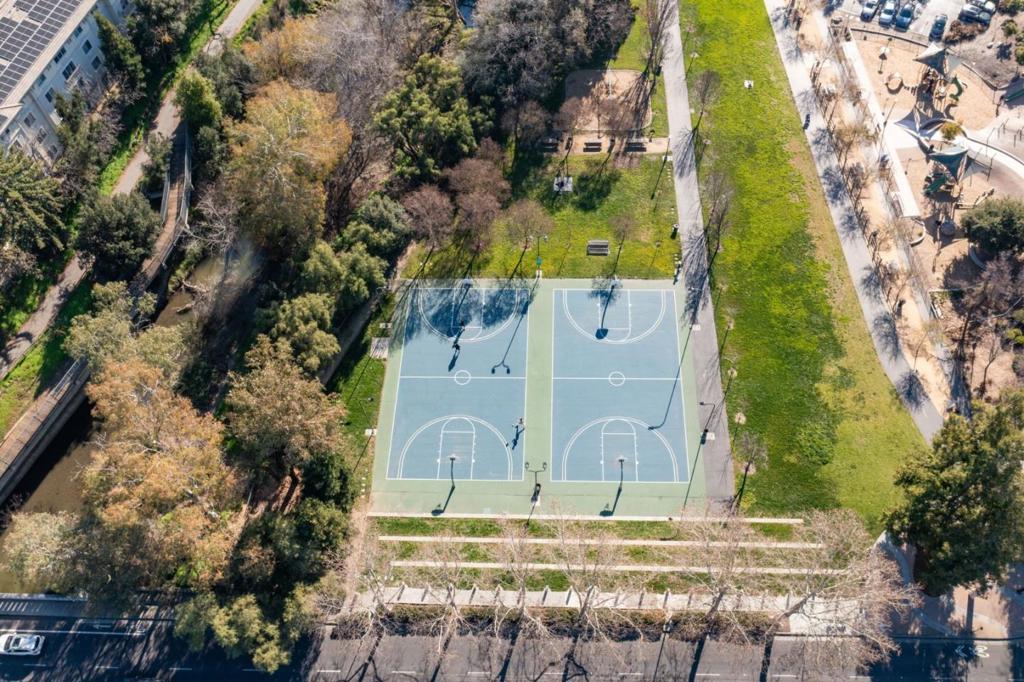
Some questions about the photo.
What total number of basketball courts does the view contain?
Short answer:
two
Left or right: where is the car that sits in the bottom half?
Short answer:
left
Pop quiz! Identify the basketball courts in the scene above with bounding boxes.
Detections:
[368,279,541,516]
[536,279,706,519]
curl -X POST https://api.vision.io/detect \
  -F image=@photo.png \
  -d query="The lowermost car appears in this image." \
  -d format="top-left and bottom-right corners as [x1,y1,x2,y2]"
[0,632,44,655]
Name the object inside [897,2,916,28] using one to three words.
car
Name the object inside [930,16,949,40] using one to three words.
car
